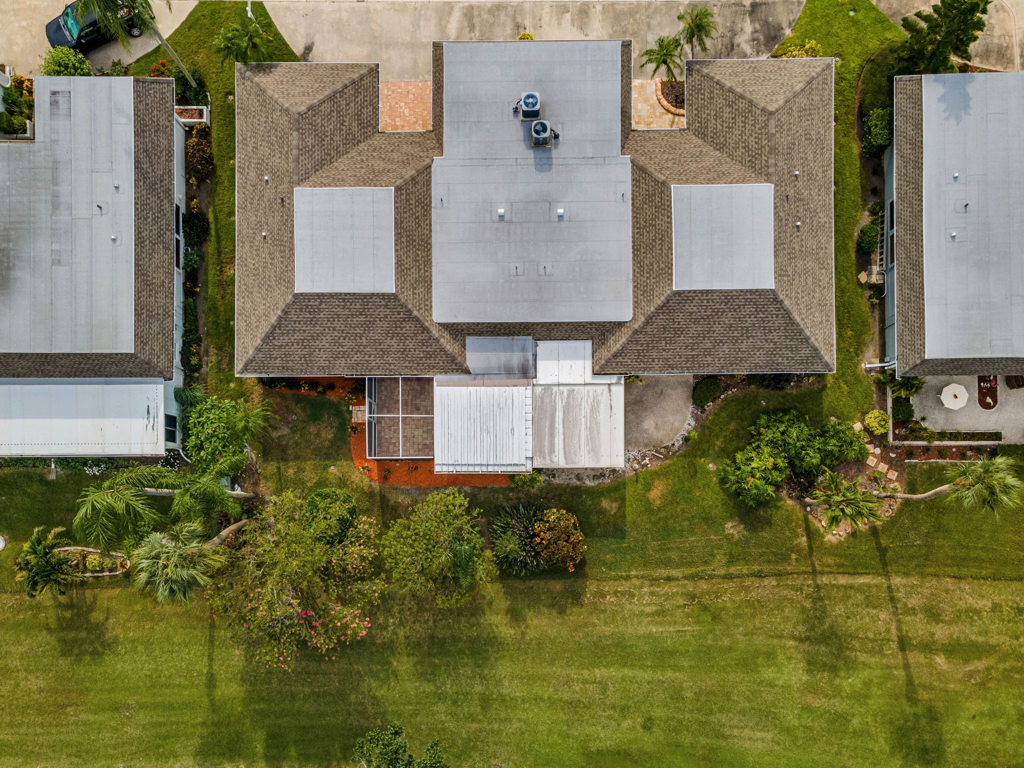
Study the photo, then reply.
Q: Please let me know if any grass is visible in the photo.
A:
Yes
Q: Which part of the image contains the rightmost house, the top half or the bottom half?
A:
top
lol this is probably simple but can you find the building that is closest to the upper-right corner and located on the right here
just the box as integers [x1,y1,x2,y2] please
[866,73,1024,380]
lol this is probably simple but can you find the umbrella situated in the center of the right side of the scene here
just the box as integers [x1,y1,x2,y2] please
[928,383,967,411]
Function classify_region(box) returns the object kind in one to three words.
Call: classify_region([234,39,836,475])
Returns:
house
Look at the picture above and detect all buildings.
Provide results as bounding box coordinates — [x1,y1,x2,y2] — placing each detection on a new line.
[866,73,1024,380]
[234,39,836,475]
[0,66,195,463]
